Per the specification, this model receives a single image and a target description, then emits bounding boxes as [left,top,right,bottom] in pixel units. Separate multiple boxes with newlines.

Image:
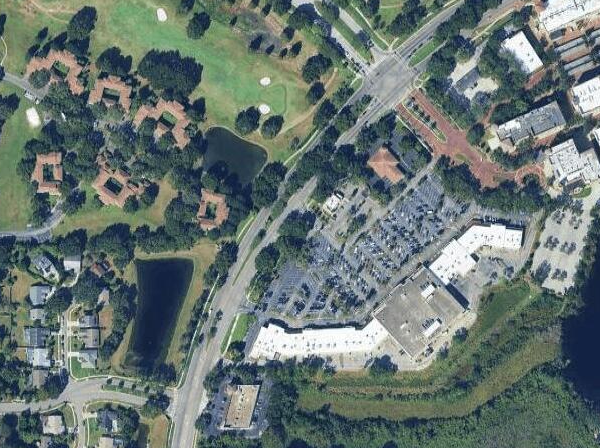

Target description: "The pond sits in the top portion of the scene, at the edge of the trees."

[204,127,267,189]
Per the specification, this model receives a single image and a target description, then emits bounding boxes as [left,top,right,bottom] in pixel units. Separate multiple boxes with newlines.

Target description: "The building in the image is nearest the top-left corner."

[25,46,88,90]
